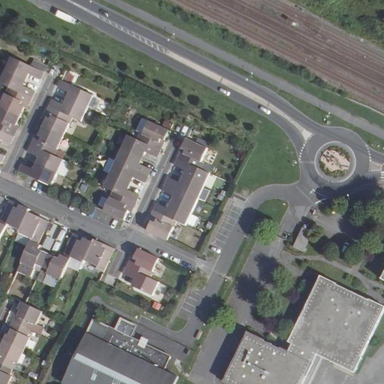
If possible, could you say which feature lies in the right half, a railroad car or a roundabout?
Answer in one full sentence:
Visible in the right half is a roundabout.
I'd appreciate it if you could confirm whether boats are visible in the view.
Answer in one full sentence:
No, no boat can be seen from above.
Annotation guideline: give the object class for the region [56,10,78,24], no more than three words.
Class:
vehicle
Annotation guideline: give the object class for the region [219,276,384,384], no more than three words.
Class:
building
